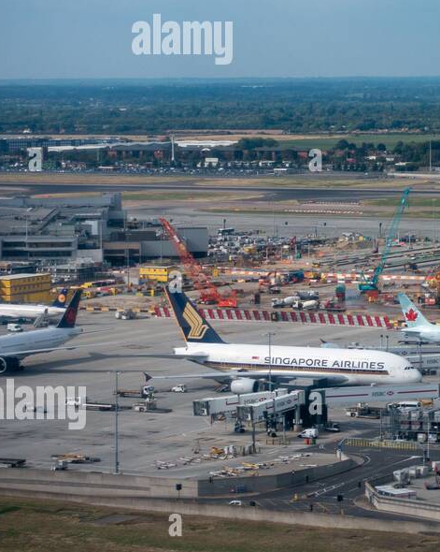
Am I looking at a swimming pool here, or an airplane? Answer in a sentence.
It is an airplane that can be seen here.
